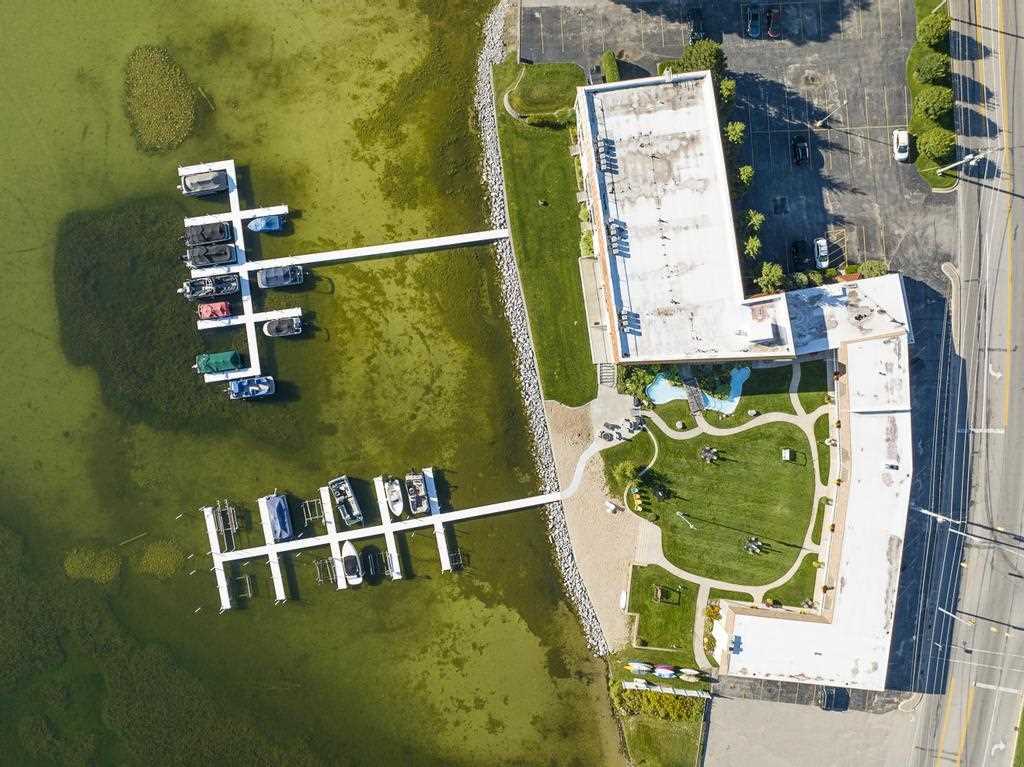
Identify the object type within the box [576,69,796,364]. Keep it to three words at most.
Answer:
building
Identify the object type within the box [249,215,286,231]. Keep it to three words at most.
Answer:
boat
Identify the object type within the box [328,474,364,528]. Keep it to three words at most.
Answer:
boat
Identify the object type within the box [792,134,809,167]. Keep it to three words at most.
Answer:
car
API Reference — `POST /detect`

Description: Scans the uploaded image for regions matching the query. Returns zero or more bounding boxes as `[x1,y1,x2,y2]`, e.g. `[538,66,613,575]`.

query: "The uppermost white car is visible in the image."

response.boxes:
[892,130,909,163]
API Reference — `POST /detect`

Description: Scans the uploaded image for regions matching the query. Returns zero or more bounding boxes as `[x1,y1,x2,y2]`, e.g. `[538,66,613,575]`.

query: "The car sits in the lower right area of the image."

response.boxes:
[821,684,838,711]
